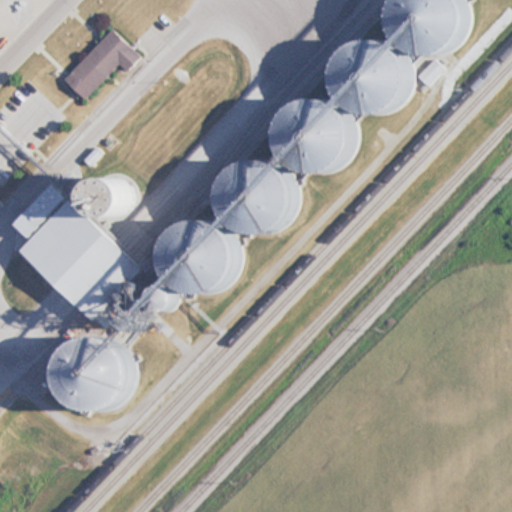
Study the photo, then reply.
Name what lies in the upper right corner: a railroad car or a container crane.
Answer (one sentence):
What appears in the upper right corner is a railroad car.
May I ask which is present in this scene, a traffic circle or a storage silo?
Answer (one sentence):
I can see a storage silo in this picture.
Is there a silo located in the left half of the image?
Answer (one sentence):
Yes, a silo appears in the left half of the image.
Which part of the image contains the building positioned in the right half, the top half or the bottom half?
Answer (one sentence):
The top half of the photo is where the building positioned in the right half is.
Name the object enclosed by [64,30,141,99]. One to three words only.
house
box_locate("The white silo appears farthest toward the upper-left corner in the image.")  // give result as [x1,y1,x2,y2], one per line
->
[70,174,142,220]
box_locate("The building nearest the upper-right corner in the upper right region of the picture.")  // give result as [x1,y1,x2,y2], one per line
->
[419,61,447,86]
